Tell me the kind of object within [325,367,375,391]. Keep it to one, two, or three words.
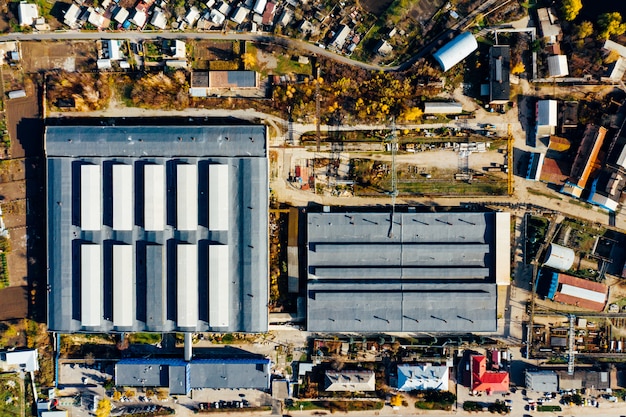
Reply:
house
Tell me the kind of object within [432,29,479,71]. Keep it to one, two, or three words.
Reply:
hangar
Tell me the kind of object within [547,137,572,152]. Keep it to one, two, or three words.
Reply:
shed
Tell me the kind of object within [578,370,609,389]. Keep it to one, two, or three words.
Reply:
building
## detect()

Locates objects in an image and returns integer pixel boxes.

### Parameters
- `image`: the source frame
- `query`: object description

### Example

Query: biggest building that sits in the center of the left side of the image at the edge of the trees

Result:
[46,124,270,333]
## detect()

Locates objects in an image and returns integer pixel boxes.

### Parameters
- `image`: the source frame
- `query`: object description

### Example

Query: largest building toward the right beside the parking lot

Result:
[307,212,510,332]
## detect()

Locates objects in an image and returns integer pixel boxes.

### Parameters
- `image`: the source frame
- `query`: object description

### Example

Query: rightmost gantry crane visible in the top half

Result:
[493,123,513,197]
